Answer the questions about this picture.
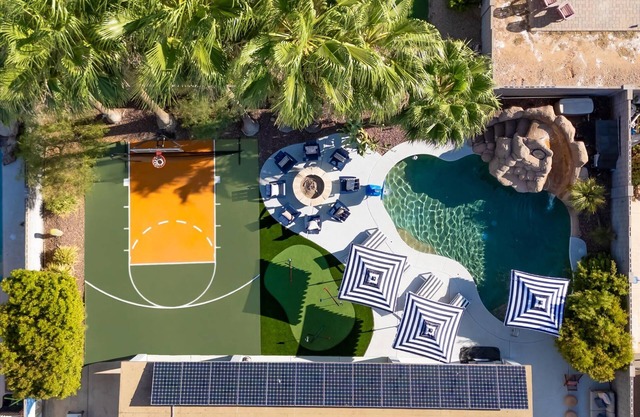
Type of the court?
basketball court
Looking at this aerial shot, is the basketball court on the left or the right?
left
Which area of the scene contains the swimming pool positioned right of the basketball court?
right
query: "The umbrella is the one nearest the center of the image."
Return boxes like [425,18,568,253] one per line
[338,243,408,313]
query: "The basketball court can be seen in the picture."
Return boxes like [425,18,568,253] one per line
[83,138,261,366]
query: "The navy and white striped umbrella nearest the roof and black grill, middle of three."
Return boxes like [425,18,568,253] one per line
[392,291,463,361]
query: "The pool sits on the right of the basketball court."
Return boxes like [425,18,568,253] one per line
[371,144,582,344]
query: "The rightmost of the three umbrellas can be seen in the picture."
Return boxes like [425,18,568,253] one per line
[504,270,570,336]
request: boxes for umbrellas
[504,270,570,336]
[392,291,463,361]
[338,243,408,313]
